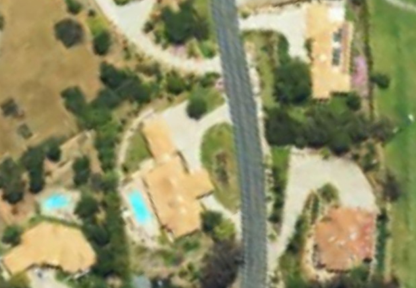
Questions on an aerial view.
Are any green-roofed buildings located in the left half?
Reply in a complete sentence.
No, in the left half there is no green-roofed building.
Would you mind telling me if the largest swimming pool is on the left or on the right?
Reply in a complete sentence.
It is on the left.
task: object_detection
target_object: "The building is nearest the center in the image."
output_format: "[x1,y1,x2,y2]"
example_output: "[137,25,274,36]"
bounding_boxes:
[141,115,213,241]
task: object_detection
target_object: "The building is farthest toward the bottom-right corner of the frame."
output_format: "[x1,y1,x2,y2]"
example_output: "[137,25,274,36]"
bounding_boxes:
[315,207,375,271]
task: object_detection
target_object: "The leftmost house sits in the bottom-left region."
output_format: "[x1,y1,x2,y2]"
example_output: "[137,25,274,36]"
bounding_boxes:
[2,219,94,275]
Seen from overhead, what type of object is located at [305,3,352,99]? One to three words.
house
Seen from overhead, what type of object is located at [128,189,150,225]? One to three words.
swimming pool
